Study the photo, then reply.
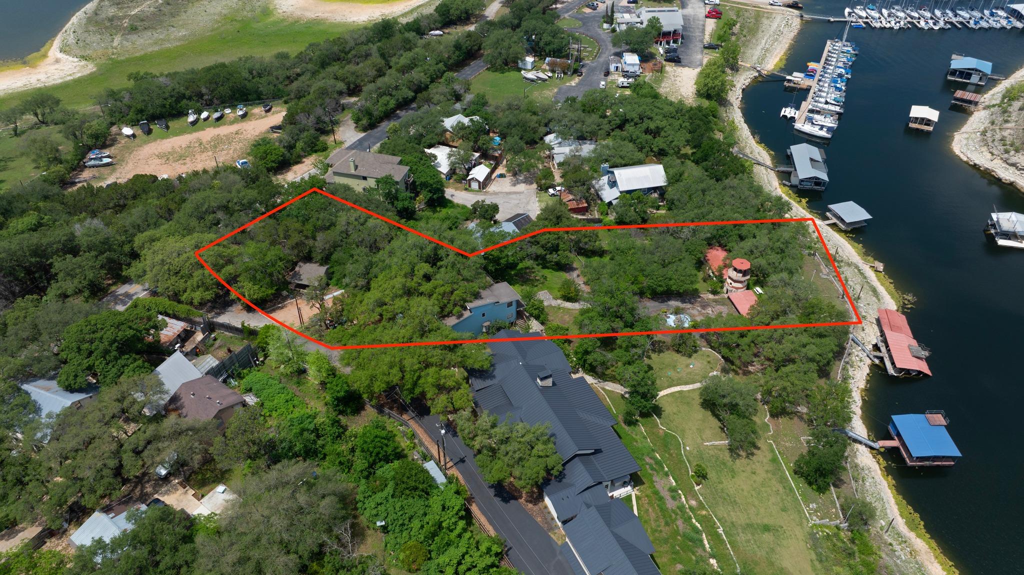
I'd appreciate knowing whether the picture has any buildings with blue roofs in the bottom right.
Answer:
Yes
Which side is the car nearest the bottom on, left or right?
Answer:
left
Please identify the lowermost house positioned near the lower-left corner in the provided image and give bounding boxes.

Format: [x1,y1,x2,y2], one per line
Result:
[70,495,149,552]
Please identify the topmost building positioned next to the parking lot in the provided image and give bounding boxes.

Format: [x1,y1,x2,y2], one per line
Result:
[610,7,684,47]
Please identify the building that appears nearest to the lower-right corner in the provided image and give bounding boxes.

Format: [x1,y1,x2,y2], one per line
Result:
[878,410,961,466]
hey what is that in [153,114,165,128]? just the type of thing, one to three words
boat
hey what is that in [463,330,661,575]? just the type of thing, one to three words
house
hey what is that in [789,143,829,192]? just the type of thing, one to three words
building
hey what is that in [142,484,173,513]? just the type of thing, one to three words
car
